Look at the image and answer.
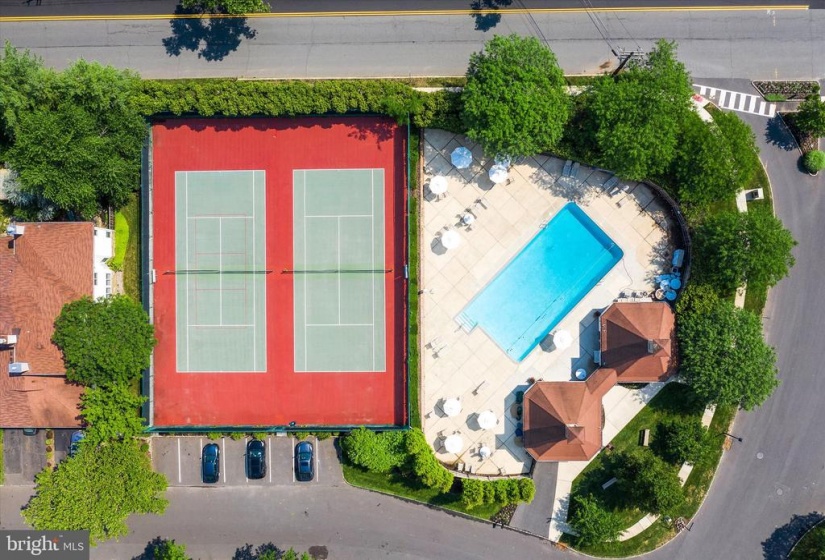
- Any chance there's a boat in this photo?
No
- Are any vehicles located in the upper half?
No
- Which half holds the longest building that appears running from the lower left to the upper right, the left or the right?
right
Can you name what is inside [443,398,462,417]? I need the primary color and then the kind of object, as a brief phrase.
white umbrella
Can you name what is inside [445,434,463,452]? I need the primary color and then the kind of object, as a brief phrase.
white umbrella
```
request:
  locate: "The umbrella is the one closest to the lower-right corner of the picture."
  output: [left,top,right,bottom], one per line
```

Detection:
[553,330,572,349]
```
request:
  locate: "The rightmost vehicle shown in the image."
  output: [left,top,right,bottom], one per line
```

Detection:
[293,441,313,481]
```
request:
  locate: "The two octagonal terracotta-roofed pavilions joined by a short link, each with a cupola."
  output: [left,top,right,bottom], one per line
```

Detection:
[523,301,677,462]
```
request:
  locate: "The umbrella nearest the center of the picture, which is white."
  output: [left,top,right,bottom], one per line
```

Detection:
[442,230,459,248]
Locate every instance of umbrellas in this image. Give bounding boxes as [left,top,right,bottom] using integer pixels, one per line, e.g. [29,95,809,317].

[553,330,572,349]
[451,147,471,168]
[445,434,463,452]
[477,409,497,429]
[495,152,512,168]
[429,176,448,194]
[442,230,459,248]
[443,398,462,417]
[489,164,508,183]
